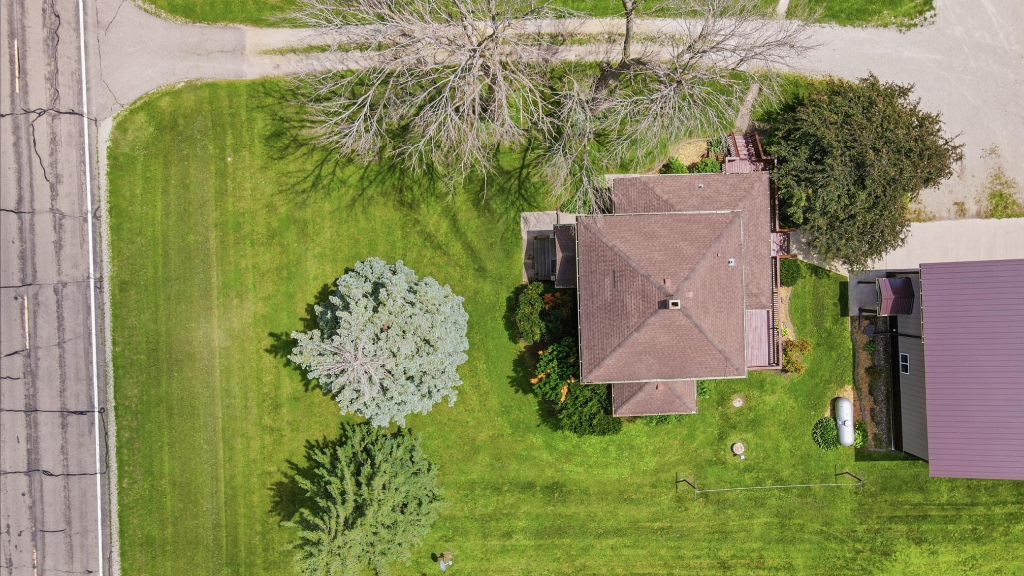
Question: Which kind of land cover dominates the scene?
grass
